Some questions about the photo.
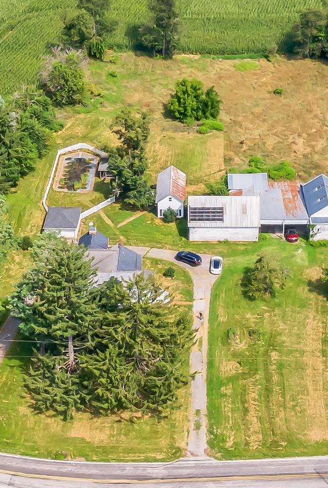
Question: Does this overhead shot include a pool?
Yes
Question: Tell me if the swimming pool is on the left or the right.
left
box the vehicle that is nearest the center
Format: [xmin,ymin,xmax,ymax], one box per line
[174,251,204,268]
